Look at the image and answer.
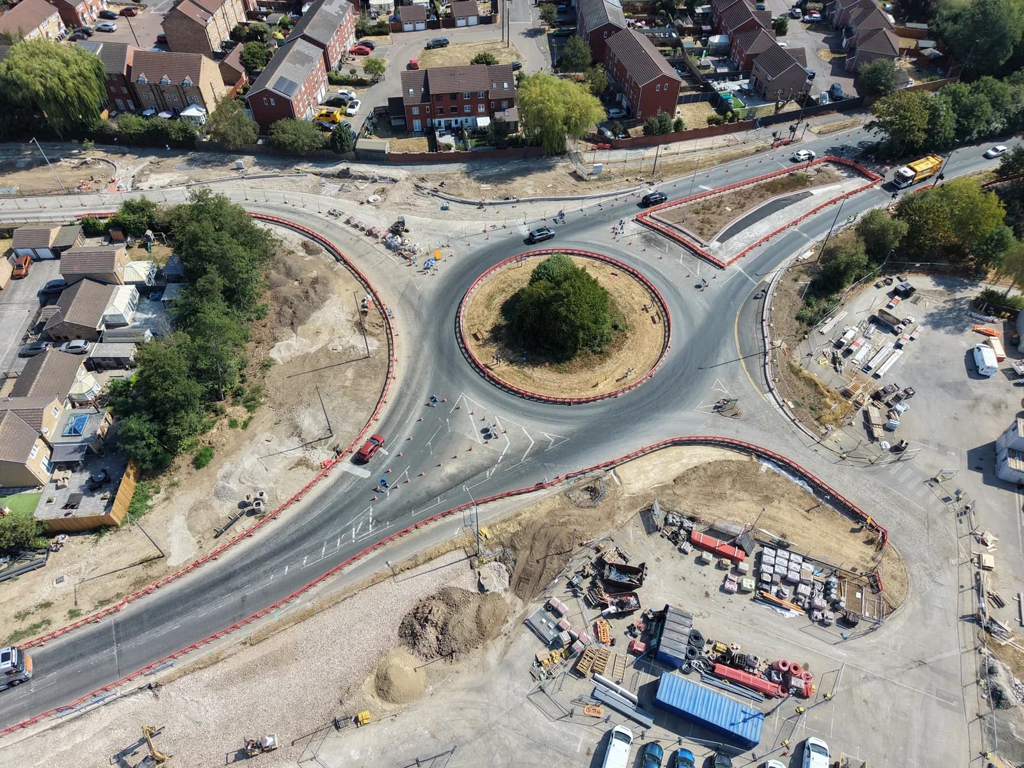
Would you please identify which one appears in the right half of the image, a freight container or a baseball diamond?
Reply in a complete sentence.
There is a freight container in the right half of the image.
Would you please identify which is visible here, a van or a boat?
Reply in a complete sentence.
There is a van in the scene.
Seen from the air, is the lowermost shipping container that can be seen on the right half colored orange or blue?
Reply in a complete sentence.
The color of the lowermost shipping container that can be seen on the right half is blue.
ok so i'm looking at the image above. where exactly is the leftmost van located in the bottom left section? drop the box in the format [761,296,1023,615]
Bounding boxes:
[0,651,39,688]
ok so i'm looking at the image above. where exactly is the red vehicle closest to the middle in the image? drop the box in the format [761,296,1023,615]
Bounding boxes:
[355,434,385,467]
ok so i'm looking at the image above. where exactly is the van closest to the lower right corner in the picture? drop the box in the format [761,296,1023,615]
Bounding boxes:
[801,732,832,768]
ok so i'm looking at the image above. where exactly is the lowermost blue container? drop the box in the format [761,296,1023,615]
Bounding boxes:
[649,673,765,749]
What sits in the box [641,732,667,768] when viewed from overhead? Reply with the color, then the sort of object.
blue car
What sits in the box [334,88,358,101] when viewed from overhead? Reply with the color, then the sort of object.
white vehicle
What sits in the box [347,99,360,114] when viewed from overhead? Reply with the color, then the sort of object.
white vehicle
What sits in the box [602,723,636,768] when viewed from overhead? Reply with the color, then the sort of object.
white van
